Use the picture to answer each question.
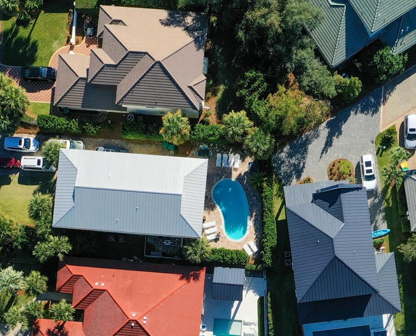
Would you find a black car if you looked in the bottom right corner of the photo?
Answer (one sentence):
No, no black car is visible in the bottom right corner of the photo.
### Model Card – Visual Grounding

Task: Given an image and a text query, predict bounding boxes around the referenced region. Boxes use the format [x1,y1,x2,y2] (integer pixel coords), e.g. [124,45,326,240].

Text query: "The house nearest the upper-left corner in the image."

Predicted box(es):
[53,4,210,118]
